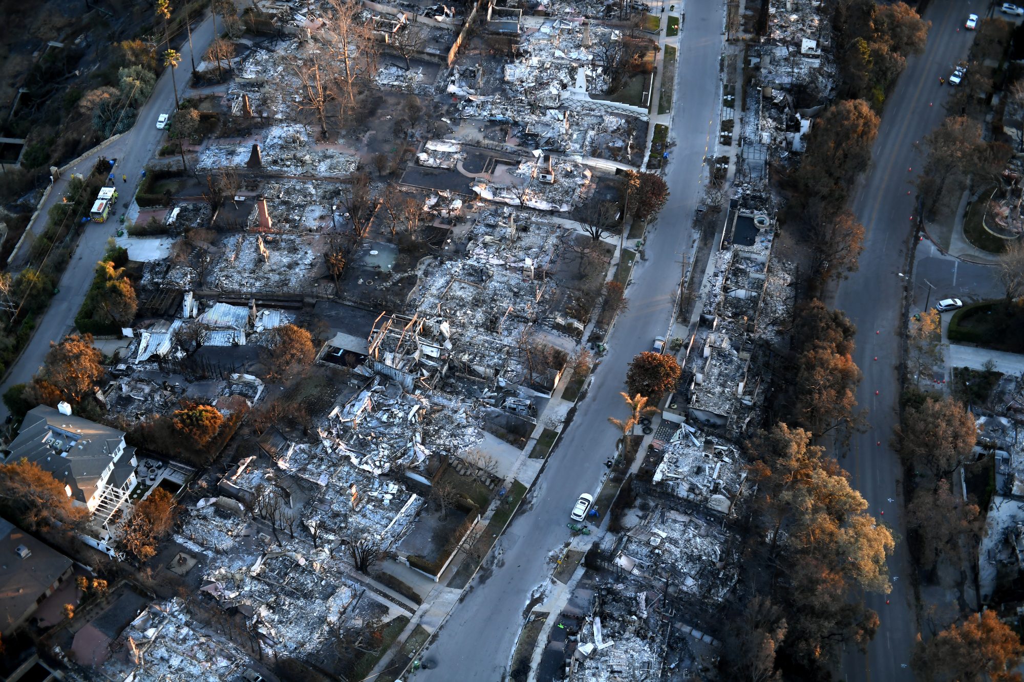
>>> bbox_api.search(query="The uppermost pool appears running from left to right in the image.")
[486,19,522,32]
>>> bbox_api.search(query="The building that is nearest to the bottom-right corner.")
[974,504,1024,591]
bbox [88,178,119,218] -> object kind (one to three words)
truck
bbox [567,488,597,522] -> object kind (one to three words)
car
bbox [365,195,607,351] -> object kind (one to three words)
house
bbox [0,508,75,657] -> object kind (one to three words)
house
